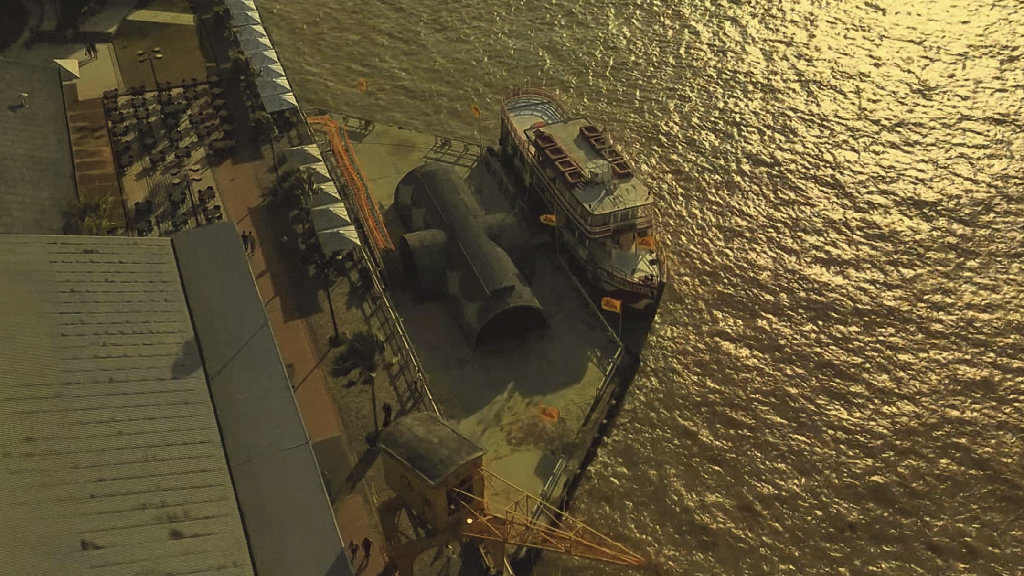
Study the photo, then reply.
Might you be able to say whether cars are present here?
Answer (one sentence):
No, no car can be seen from above.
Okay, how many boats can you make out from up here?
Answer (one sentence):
The picture shows just 1 boat.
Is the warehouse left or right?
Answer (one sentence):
It is on the left.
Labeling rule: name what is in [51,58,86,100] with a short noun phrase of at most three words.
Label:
tent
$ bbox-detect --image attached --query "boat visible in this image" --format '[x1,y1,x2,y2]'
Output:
[498,82,666,336]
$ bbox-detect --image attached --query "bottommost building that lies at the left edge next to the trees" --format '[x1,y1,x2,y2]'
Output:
[0,223,355,576]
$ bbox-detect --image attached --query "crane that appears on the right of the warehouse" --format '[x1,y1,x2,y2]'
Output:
[362,415,651,576]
